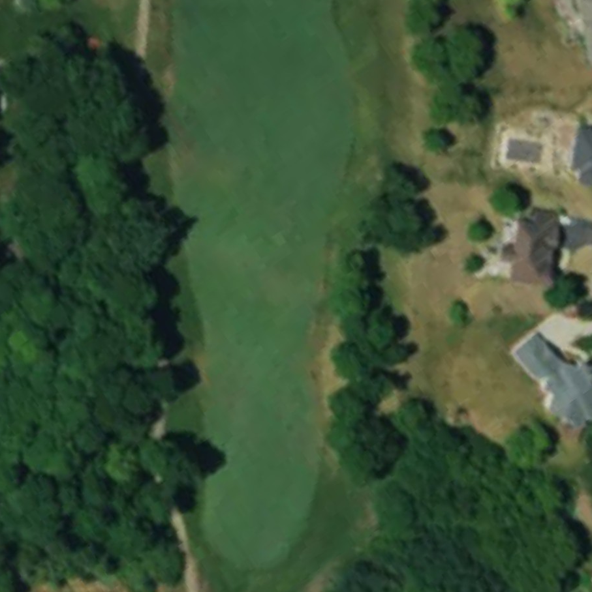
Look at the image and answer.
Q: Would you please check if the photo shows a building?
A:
Yes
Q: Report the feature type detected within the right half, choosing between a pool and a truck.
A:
pool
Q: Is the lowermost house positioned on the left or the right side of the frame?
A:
right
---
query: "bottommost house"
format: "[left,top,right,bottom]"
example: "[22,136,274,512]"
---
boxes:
[517,333,592,428]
